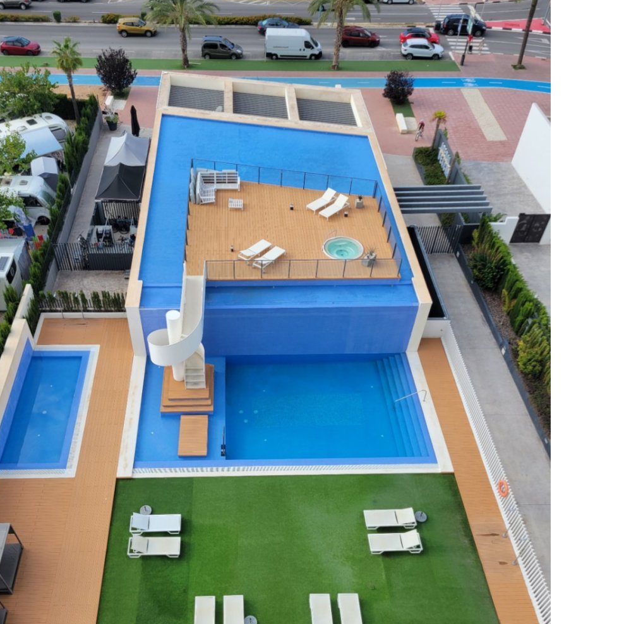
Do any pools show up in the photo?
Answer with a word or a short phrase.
Yes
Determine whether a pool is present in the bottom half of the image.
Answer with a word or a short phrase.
Yes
